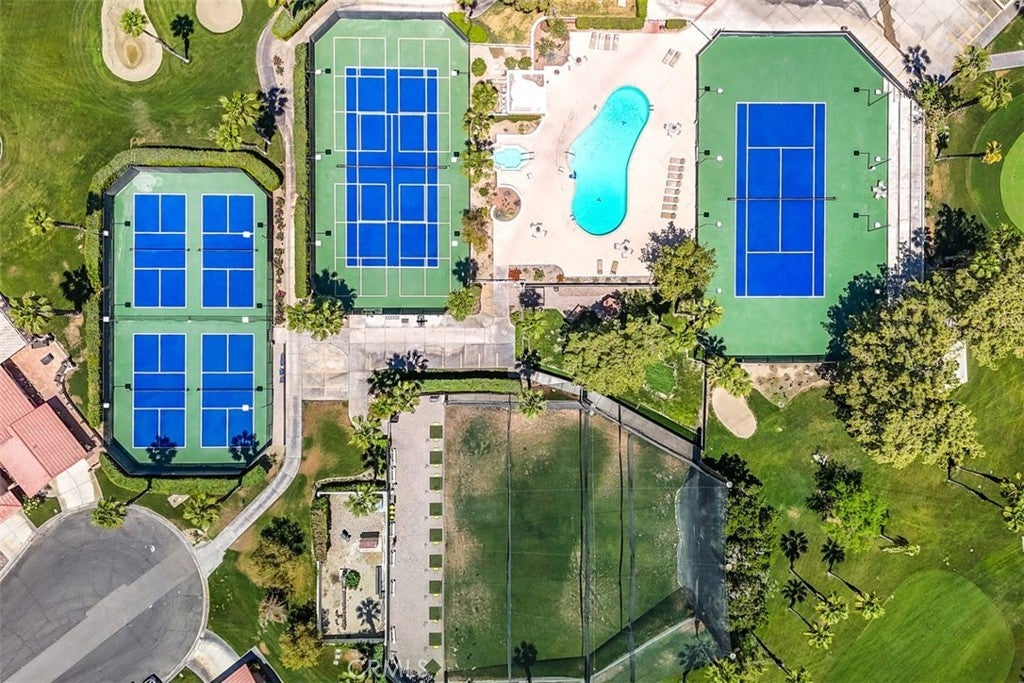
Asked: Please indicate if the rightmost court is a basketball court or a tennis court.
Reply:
tennis court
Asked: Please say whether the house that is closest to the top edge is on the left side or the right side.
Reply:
left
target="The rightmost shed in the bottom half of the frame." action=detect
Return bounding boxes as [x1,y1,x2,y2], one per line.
[356,536,379,553]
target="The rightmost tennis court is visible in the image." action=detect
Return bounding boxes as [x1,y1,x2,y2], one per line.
[698,34,889,358]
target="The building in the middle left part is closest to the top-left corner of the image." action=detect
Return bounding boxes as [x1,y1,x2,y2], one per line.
[0,307,34,364]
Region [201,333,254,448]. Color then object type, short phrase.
blue sports court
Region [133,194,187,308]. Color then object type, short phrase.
blue sports court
